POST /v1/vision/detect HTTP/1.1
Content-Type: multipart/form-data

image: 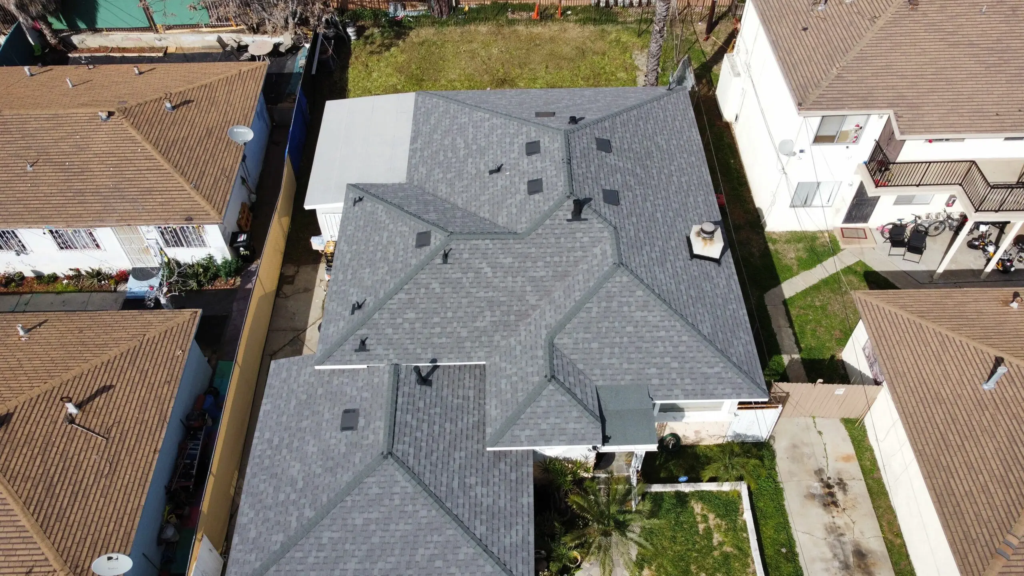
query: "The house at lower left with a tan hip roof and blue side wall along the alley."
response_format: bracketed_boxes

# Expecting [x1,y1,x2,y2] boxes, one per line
[0,308,214,576]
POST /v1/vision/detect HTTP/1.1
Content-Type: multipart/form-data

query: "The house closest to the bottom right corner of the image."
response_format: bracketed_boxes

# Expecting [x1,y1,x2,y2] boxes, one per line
[841,287,1024,576]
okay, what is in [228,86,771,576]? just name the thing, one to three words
house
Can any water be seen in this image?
No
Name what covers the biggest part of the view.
buildings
